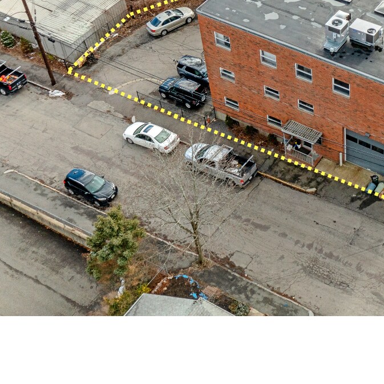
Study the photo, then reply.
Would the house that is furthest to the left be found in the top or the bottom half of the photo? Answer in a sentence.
The house that is furthest to the left sits in the bottom half of the picture.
